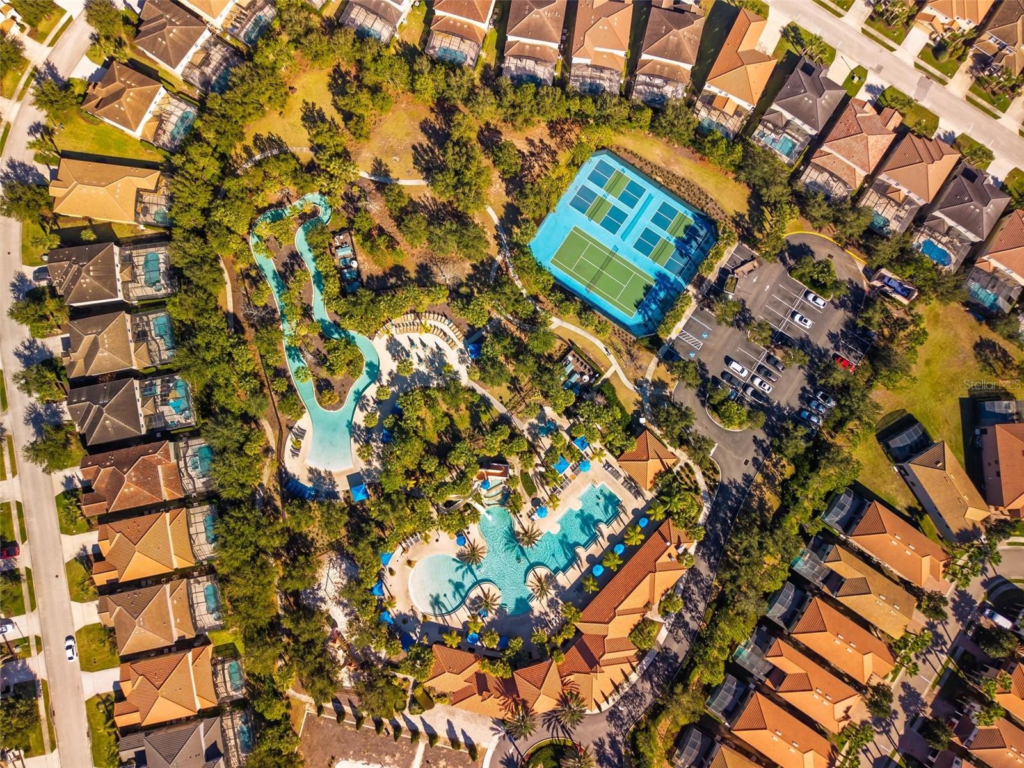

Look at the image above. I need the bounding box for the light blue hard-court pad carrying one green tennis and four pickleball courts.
[530,154,716,335]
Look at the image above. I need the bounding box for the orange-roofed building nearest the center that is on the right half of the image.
[617,430,679,492]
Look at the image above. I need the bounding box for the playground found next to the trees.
[321,629,363,673]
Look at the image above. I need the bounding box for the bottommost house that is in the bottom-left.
[118,715,234,768]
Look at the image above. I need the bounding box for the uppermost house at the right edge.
[911,0,988,47]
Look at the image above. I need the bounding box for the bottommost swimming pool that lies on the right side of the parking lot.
[969,283,999,307]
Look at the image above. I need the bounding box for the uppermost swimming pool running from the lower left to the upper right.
[246,15,271,41]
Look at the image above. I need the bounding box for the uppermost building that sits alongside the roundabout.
[422,517,700,722]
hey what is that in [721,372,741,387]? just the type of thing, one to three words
car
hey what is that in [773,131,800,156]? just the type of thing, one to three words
swimming pool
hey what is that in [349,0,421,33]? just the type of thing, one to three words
house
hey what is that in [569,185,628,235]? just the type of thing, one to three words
sports court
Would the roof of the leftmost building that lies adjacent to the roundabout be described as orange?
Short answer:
Yes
